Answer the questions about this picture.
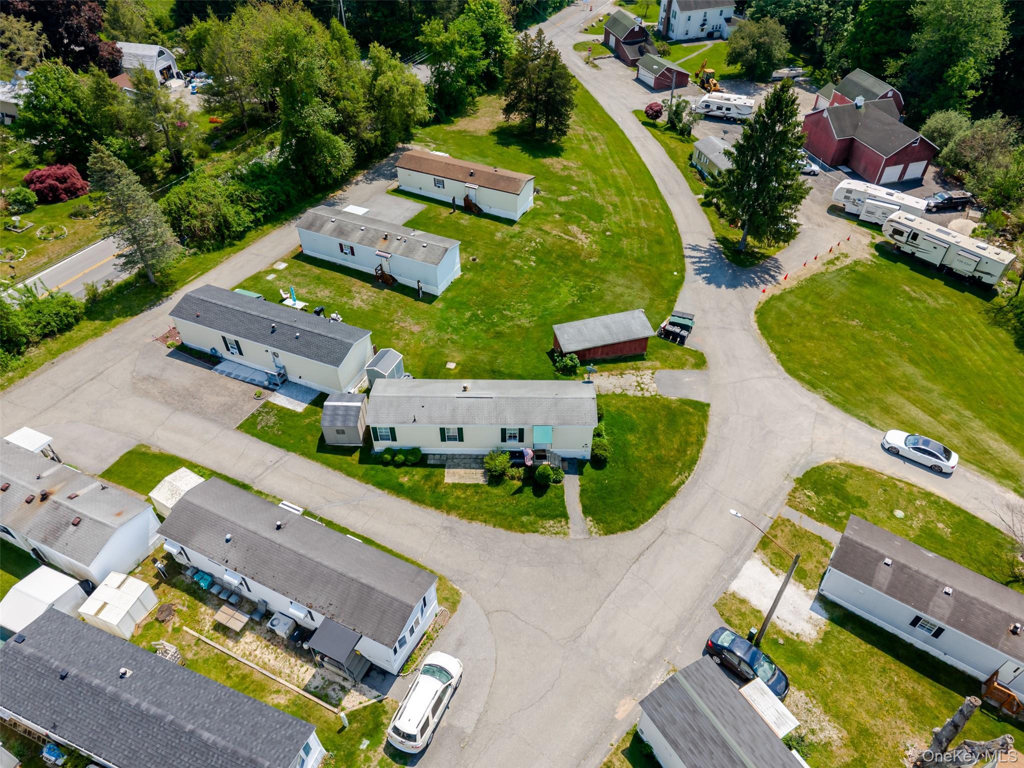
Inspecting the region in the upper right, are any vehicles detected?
Yes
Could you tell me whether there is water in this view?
No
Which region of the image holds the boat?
top right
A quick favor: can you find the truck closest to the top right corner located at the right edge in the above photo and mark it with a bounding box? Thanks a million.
[931,190,975,214]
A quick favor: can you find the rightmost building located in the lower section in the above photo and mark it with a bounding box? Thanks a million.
[813,514,1024,698]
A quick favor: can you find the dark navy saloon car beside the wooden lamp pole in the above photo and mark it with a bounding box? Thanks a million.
[709,630,796,708]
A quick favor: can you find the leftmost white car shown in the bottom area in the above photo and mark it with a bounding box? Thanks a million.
[388,656,462,756]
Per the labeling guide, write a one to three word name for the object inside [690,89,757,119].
trailer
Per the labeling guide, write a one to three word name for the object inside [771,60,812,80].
boat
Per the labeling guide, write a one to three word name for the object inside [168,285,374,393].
house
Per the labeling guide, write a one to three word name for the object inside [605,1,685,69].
barn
